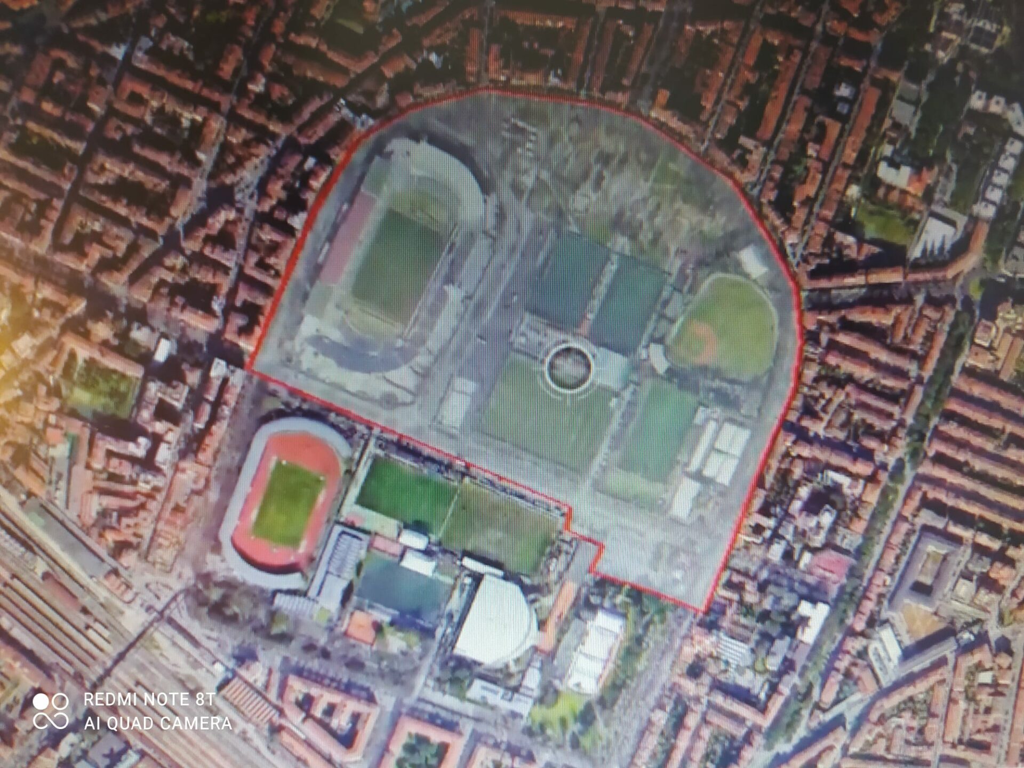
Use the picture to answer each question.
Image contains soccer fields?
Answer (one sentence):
Yes, this view includes a soccer field.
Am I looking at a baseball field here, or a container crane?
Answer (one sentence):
I can see a baseball field in this picture.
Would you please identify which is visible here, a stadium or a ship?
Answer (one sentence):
Looking from above, you can make out a stadium.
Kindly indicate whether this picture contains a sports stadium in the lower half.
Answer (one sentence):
Yes, you'll find a sports stadium in the lower half.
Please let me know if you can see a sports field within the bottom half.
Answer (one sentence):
Yes, there is a sports field within the bottom half.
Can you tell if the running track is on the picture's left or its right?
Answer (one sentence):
You can find the running track on the left side of the picture.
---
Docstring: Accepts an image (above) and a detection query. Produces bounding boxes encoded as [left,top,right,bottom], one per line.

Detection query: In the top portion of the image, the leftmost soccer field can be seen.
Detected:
[351,209,448,324]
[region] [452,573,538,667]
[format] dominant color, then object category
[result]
white stadium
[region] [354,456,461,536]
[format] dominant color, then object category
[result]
green soccer field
